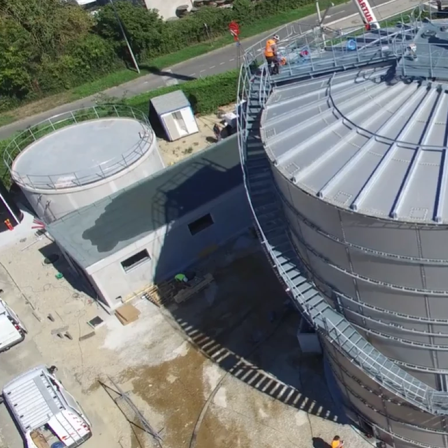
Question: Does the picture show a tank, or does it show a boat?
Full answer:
It is a tank that can be seen here.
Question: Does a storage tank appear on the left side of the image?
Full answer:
Yes, a storage tank shows up on the left side of the image.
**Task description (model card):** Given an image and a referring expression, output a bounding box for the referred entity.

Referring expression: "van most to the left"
[0,294,31,350]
